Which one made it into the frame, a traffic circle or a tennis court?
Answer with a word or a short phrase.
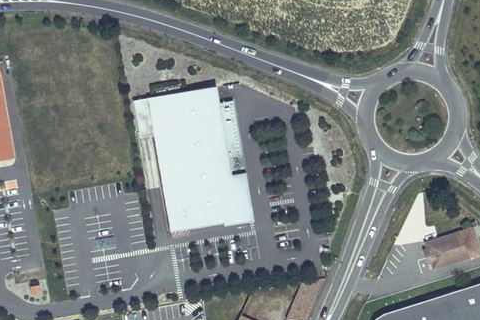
traffic circle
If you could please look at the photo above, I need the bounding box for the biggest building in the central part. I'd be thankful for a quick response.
[134,87,254,236]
